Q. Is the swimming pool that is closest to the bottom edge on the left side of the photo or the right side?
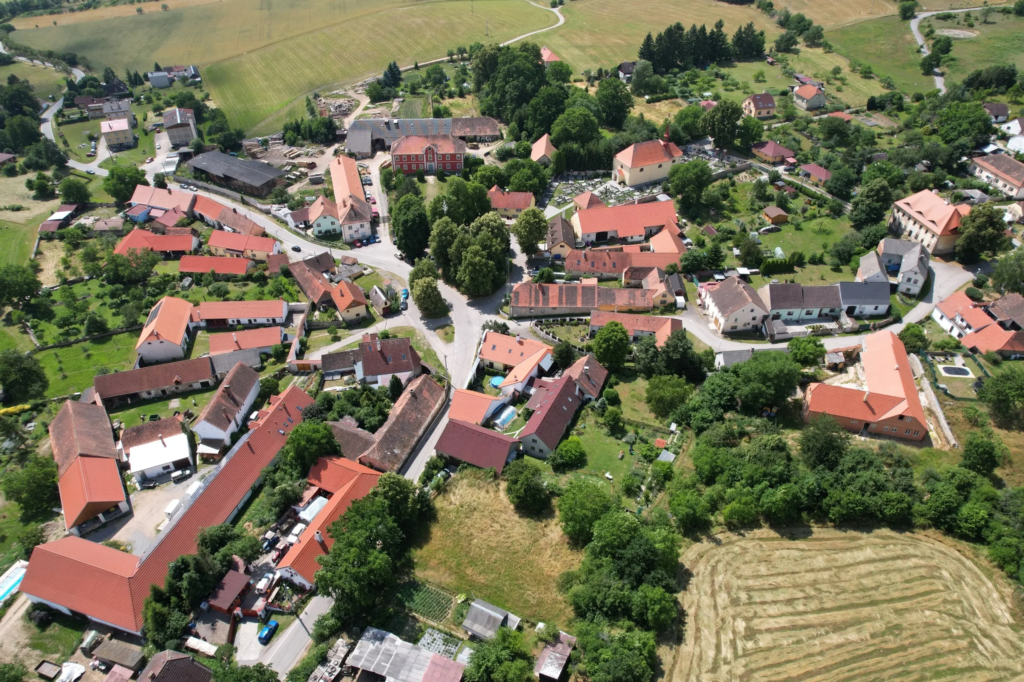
left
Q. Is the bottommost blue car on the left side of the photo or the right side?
left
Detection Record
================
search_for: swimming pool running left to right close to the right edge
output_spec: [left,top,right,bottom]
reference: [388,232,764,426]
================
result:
[936,365,975,378]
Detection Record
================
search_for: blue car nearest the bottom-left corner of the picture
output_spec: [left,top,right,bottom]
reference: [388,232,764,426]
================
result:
[255,619,281,646]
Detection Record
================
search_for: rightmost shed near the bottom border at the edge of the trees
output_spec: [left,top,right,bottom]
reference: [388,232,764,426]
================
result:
[541,631,575,682]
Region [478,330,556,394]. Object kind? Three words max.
house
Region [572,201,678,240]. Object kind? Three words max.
barn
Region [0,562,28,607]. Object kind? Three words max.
swimming pool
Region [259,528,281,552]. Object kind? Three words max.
work vehicle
